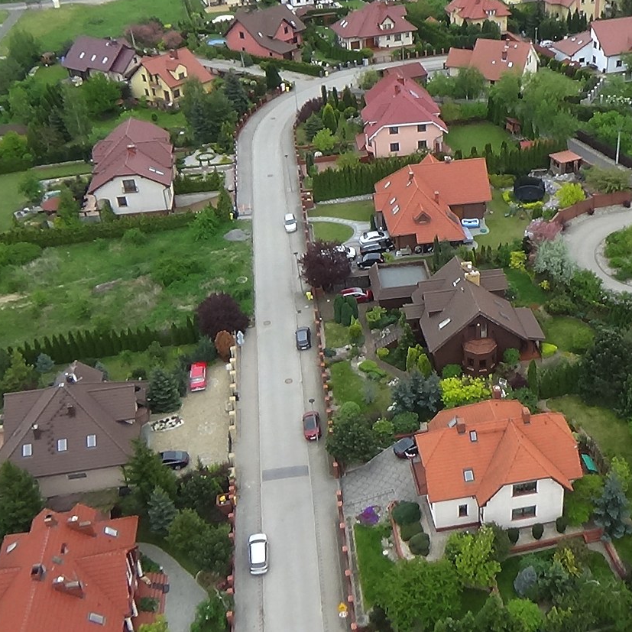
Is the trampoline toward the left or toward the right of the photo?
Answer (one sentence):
The trampoline sits on the right side.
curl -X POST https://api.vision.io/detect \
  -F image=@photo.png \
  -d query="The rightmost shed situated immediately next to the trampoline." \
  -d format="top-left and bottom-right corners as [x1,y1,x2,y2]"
[552,154,581,177]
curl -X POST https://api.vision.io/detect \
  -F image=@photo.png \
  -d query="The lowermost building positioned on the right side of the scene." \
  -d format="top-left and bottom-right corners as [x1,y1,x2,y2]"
[413,385,583,528]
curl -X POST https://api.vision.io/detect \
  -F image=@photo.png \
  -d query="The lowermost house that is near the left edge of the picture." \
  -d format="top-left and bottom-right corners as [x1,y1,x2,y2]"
[0,489,148,632]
